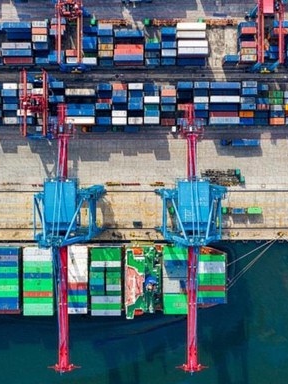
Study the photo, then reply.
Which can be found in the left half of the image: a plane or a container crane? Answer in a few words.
container crane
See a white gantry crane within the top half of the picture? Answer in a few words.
No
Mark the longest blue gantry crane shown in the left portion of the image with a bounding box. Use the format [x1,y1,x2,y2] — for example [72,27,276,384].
[32,104,110,378]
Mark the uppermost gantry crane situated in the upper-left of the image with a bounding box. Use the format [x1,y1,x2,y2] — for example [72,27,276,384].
[53,0,91,78]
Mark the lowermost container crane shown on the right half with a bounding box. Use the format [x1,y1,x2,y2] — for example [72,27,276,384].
[151,104,222,378]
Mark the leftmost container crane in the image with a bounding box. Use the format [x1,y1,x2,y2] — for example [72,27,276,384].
[19,69,60,141]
